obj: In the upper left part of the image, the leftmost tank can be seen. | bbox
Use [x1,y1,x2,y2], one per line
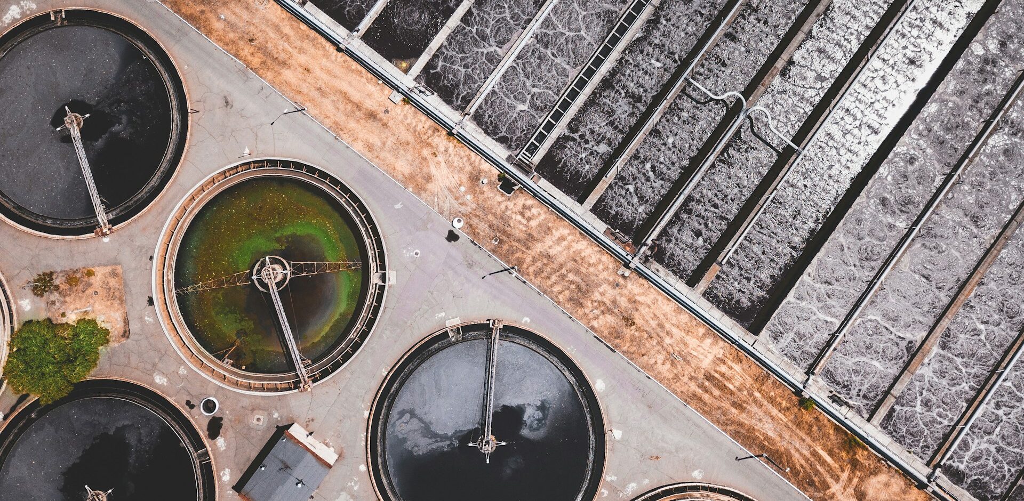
[0,7,193,238]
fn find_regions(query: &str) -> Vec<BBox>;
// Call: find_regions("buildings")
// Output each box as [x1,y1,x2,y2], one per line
[235,421,340,501]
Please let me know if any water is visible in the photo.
Yes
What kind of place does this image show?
industrial area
